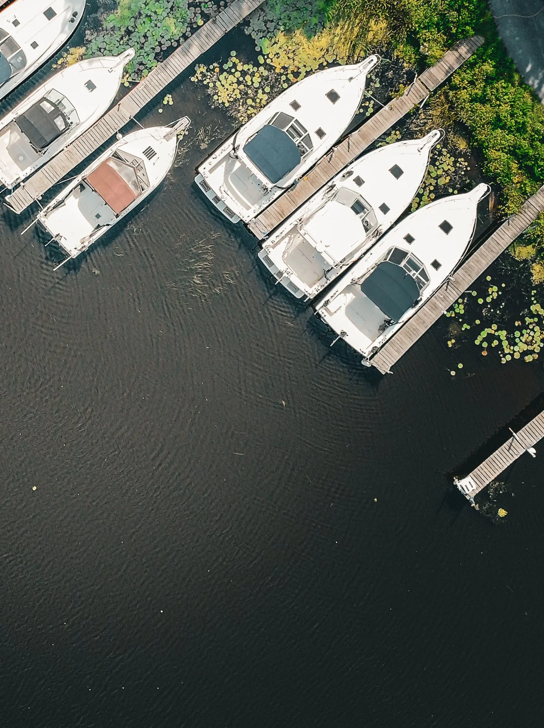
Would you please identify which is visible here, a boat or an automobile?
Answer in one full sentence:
I can see a boat in this picture.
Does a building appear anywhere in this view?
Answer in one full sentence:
No, there appears to be no building in this shot.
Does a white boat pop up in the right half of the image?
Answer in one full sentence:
Yes, looking in the right half of the image, one can make out a white boat.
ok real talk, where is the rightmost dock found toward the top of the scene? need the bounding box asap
[371,183,544,374]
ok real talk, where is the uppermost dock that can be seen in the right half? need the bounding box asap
[249,31,487,238]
